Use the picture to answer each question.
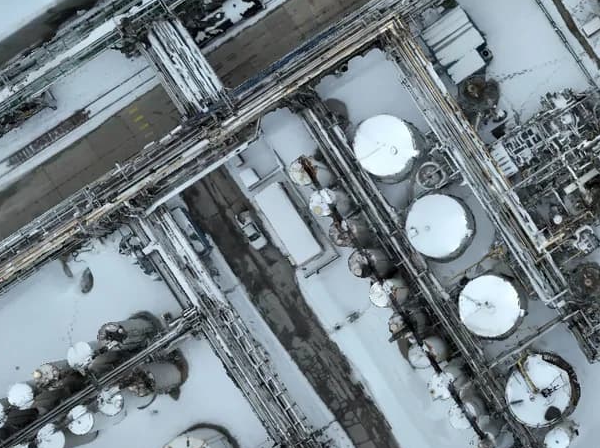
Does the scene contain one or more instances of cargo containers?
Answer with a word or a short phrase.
No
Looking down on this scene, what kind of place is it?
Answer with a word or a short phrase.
industrial area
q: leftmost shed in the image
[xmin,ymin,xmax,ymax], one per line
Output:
[239,166,266,188]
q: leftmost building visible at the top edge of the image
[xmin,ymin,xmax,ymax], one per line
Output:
[423,7,490,88]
